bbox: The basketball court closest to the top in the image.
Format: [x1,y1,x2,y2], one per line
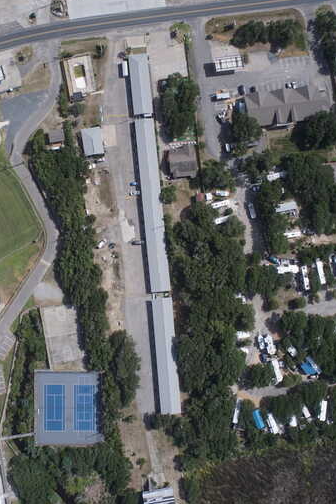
[41,306,84,363]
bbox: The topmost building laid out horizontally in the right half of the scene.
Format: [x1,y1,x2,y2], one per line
[245,82,336,129]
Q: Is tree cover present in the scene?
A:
Yes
